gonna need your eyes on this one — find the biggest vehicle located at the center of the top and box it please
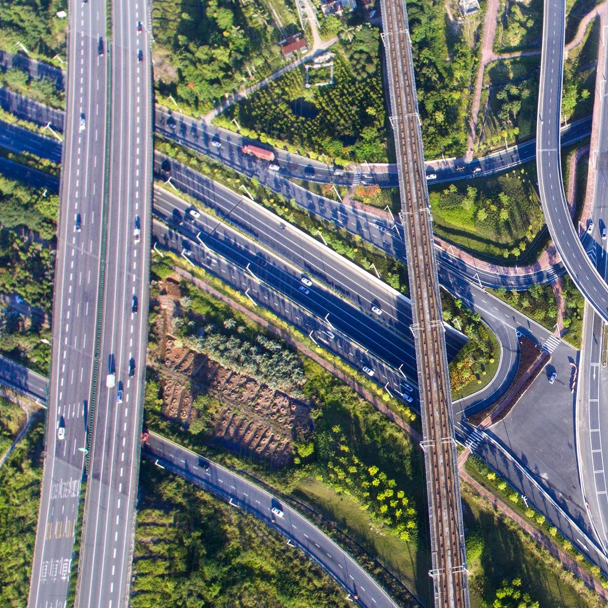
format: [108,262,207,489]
[245,145,274,160]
